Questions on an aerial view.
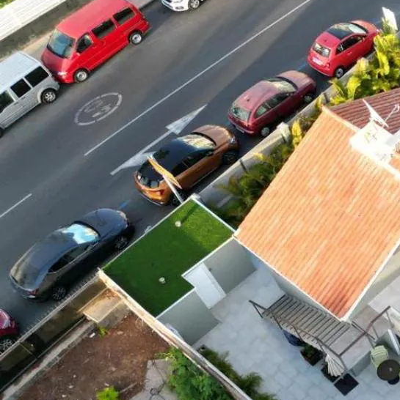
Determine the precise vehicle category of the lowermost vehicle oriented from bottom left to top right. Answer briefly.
car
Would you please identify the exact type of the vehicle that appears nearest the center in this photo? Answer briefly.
car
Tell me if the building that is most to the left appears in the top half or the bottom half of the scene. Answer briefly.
bottom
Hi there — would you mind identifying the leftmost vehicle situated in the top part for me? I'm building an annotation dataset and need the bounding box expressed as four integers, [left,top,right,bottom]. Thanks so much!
[0,46,60,125]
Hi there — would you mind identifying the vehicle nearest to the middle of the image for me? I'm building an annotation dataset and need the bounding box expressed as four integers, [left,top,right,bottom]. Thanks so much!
[131,120,236,203]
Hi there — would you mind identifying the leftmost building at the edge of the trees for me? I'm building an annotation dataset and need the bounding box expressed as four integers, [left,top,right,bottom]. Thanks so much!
[102,201,254,348]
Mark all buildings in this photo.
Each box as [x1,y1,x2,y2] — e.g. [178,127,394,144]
[234,80,400,381]
[102,201,254,348]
